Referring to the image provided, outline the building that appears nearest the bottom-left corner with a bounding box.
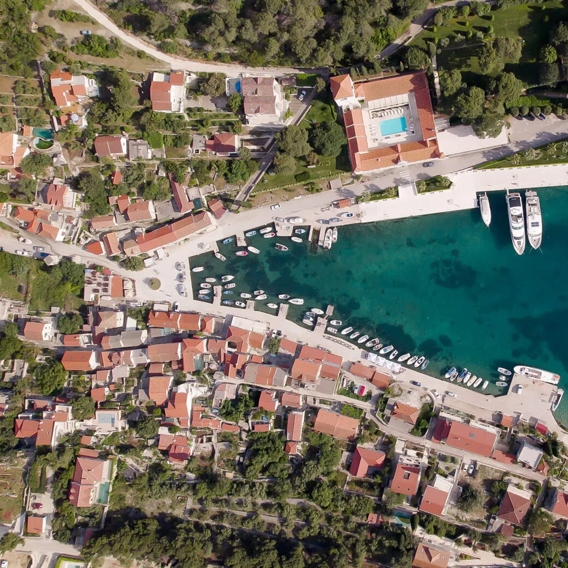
[23,513,47,536]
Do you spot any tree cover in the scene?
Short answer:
Yes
